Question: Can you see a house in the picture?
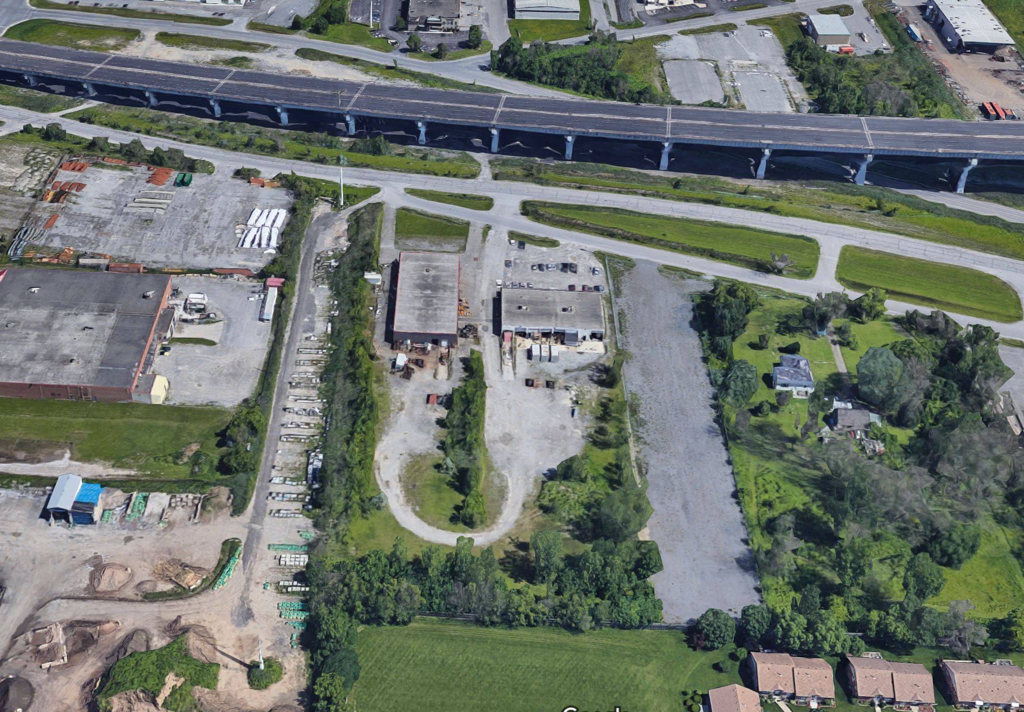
Yes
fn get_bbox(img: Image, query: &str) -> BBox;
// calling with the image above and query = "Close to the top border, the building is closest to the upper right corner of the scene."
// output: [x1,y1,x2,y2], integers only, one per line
[918,0,1016,61]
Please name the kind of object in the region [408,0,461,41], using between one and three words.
building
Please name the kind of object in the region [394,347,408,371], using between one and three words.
vehicle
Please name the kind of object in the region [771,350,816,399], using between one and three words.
house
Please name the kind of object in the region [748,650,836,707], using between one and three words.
house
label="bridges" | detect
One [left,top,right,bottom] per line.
[0,45,1024,190]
